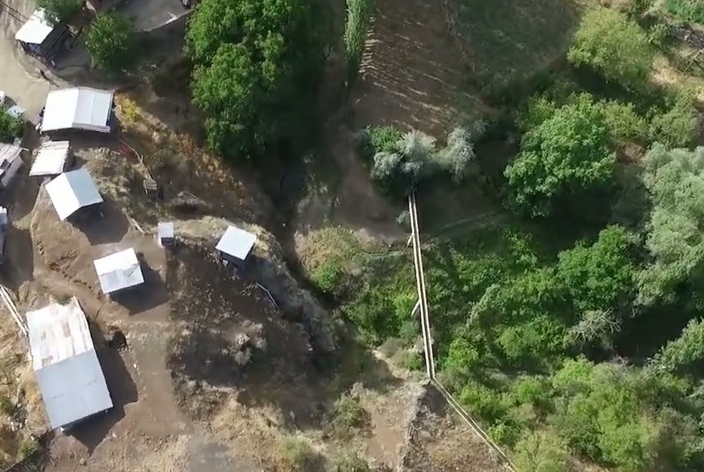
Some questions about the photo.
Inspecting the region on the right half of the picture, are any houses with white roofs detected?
No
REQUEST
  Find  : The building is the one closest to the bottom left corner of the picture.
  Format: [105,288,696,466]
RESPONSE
[27,297,114,429]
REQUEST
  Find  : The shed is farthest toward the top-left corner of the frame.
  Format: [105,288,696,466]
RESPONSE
[17,7,62,56]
